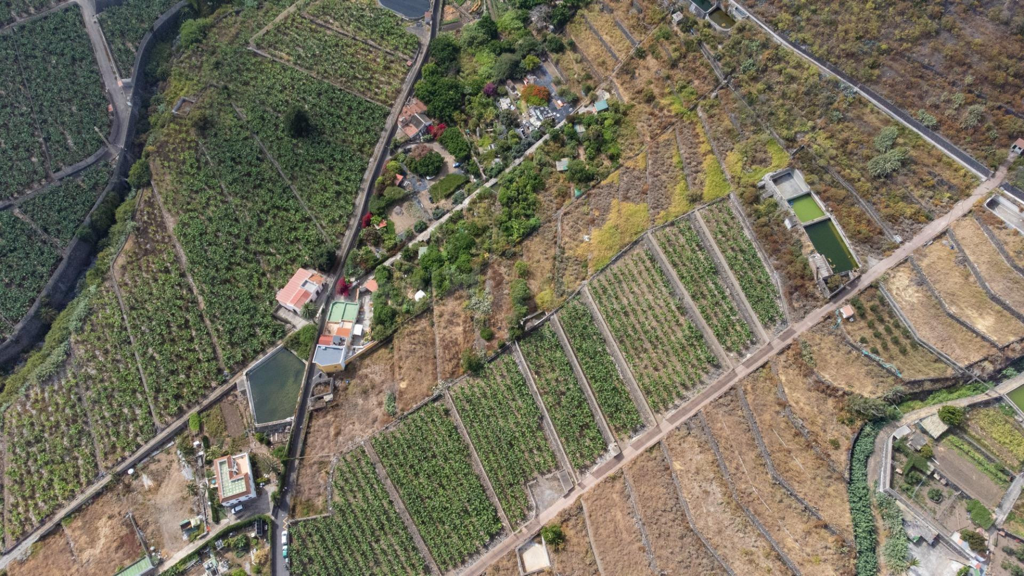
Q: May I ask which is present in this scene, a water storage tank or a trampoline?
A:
water storage tank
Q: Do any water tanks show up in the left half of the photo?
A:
Yes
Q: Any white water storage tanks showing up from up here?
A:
Yes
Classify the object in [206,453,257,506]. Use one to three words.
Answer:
house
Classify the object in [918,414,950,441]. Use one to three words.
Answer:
building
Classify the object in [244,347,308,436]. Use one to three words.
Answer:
water tank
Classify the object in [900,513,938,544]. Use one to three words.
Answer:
shed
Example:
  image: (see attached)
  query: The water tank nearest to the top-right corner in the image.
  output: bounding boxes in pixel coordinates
[981,195,1024,236]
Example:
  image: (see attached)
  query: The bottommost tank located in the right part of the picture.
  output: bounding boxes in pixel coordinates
[1002,380,1024,420]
